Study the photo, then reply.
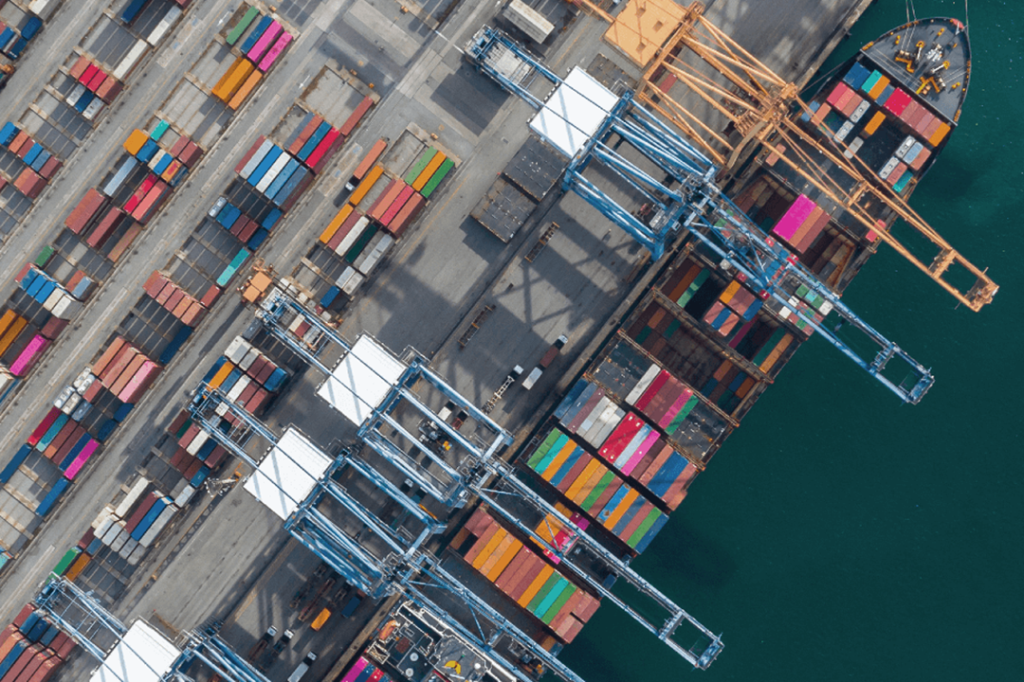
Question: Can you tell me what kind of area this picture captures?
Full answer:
What you see here is a port.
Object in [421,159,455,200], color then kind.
green shipping container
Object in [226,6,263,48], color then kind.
green shipping container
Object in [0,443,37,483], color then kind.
blue shipping container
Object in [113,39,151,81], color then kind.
white shipping container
